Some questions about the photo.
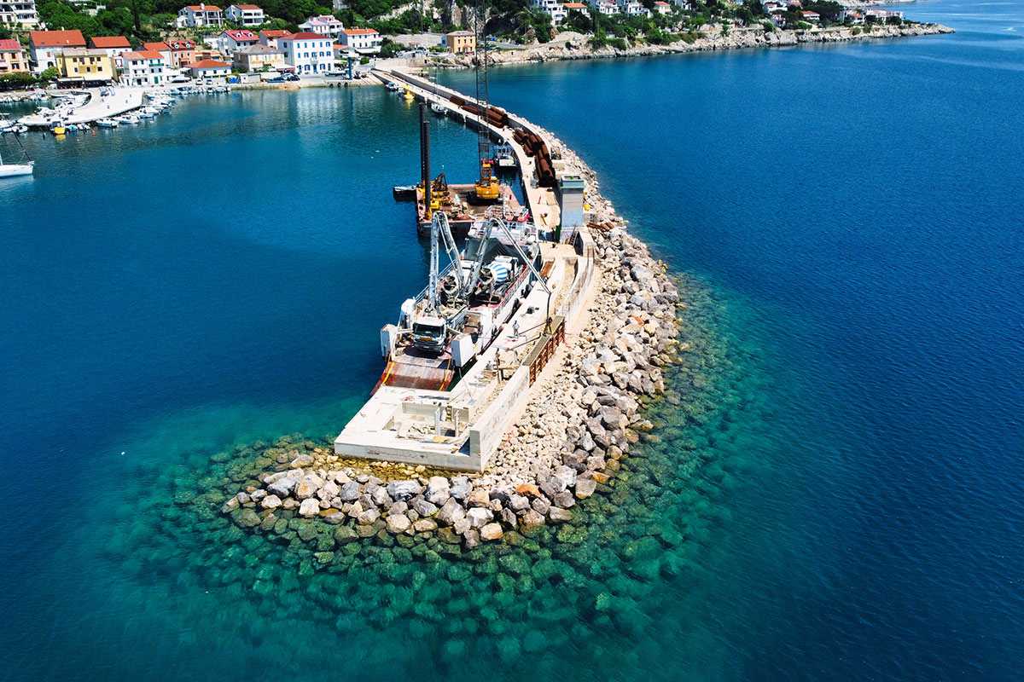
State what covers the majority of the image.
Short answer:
water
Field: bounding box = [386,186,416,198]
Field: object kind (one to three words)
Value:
boat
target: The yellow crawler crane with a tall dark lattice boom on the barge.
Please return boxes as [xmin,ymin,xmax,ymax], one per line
[471,0,504,204]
